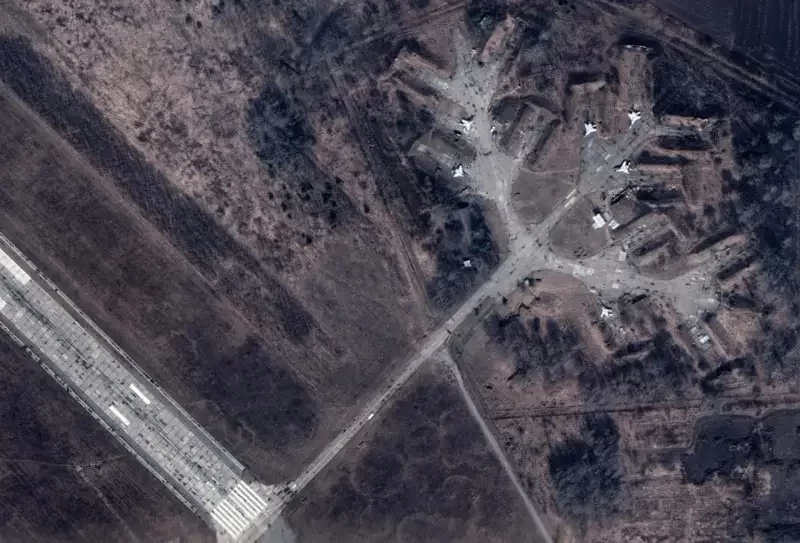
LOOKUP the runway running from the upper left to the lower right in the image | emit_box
[0,248,267,538]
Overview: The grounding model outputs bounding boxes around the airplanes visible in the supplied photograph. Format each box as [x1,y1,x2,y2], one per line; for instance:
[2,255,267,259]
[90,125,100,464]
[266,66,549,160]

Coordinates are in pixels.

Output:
[585,120,597,136]
[630,109,641,126]
[600,307,616,321]
[461,116,472,132]
[616,161,634,172]
[452,164,464,180]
